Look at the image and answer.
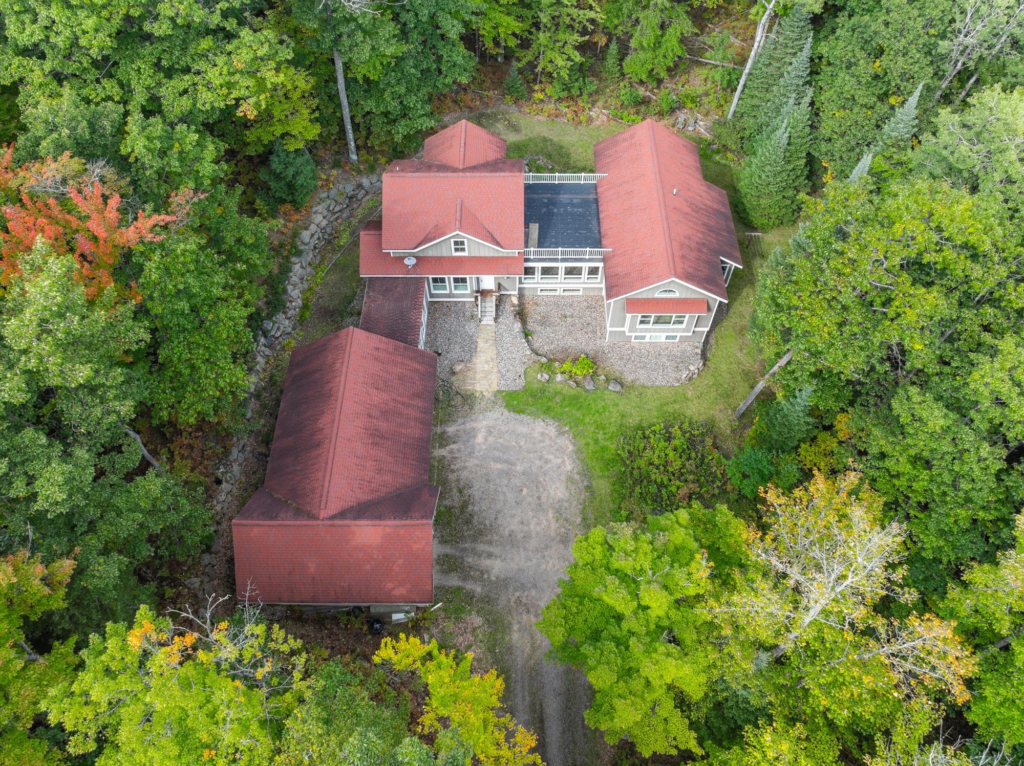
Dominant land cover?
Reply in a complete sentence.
What you mostly see from above here is trees.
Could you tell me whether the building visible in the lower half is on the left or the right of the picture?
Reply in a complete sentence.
You can find the building visible in the lower half on the left side of the picture.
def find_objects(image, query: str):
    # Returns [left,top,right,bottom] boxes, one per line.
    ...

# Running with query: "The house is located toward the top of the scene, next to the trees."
[359,119,743,350]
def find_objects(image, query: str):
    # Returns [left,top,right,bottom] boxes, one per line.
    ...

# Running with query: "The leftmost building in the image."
[232,326,441,610]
